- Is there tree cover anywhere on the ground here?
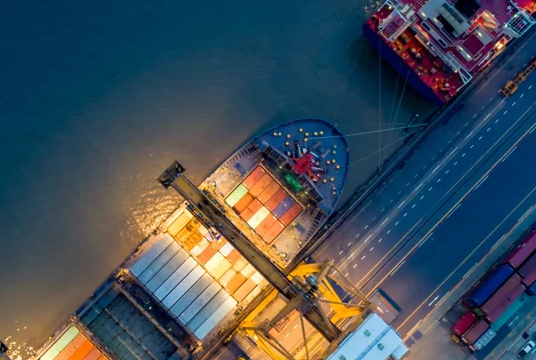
No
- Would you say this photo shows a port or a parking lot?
port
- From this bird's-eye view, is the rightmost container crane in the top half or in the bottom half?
bottom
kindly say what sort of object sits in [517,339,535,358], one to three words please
car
